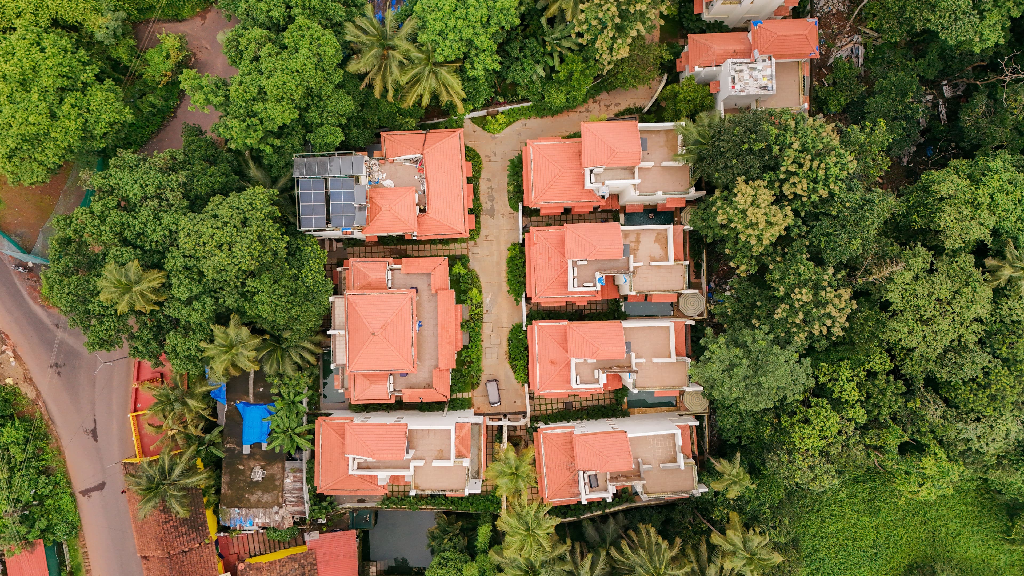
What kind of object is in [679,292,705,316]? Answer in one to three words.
umbrella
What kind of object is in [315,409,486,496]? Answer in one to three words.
house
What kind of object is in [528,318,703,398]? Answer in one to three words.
house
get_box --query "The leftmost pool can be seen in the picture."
[321,348,346,405]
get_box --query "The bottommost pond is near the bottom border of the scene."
[369,510,446,576]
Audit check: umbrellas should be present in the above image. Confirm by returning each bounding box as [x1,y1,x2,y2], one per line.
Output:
[681,202,705,228]
[683,390,707,412]
[679,292,705,316]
